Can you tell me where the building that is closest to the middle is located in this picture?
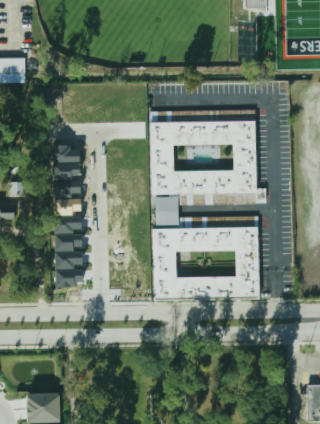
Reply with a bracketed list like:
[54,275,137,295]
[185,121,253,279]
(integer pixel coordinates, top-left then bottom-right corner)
[156,196,180,226]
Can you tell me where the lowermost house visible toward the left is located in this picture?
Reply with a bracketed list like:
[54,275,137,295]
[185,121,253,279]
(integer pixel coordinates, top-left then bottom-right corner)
[26,394,59,424]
